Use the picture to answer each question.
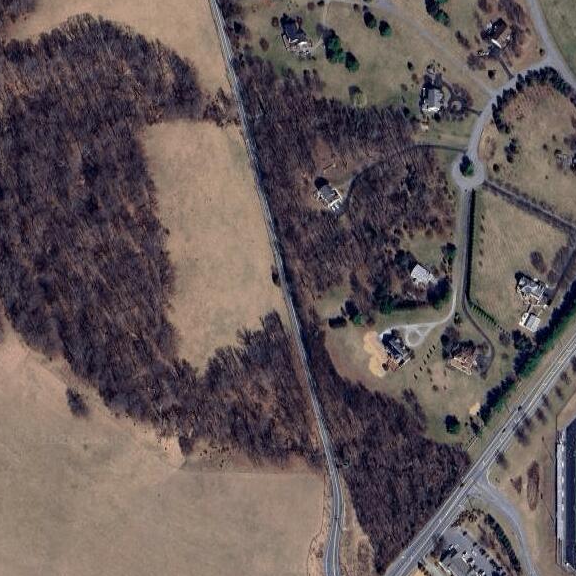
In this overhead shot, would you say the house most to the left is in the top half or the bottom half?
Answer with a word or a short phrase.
top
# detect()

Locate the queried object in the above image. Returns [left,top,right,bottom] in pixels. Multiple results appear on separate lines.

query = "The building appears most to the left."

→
[281,21,308,51]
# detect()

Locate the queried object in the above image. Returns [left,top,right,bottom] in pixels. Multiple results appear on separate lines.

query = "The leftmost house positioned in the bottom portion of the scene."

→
[380,334,408,367]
